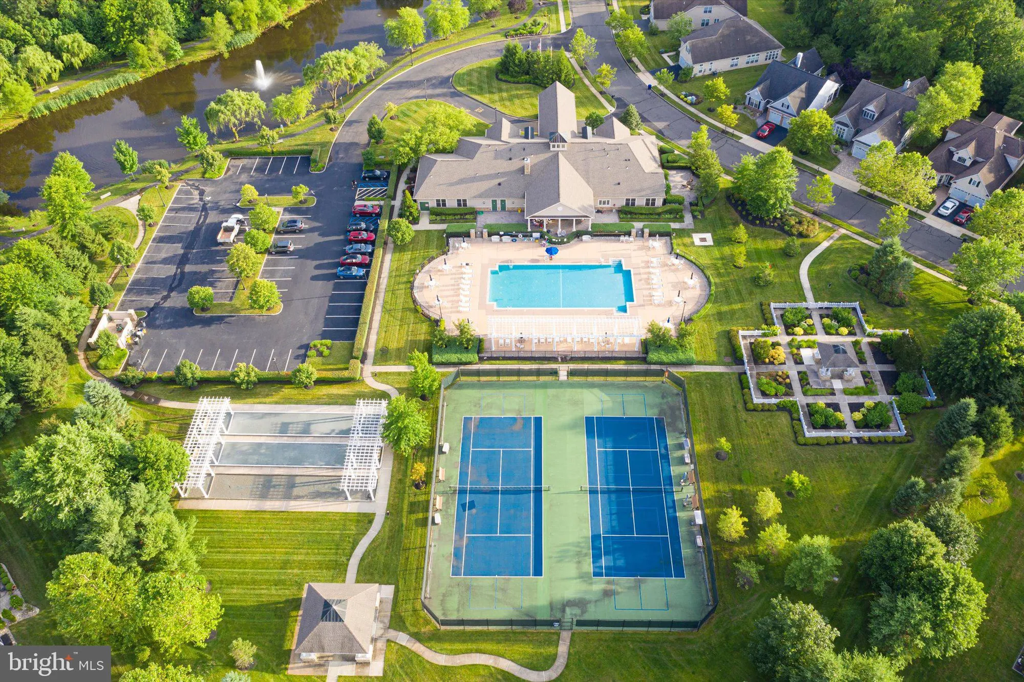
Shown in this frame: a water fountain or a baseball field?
water fountain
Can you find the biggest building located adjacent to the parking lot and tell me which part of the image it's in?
top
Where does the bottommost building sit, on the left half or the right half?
left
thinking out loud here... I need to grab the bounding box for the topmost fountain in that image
[251,59,276,91]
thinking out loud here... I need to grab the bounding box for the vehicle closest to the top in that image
[757,123,777,137]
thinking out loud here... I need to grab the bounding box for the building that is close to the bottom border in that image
[294,582,379,655]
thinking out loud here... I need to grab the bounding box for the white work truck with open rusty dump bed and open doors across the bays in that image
[218,219,243,244]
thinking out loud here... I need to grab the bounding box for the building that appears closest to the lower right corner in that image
[815,341,861,370]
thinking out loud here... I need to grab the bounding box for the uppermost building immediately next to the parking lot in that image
[414,80,667,231]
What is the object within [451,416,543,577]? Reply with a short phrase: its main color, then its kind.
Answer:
blue tennis court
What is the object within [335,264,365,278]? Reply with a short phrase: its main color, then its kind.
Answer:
blue car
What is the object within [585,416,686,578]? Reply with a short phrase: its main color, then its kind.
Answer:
blue tennis court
